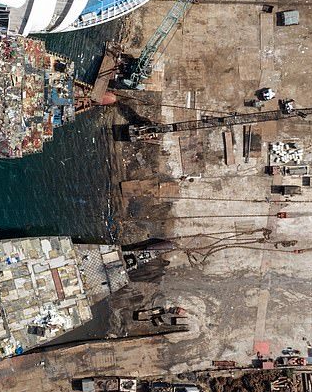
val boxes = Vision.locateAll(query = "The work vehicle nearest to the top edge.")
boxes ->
[255,81,289,102]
